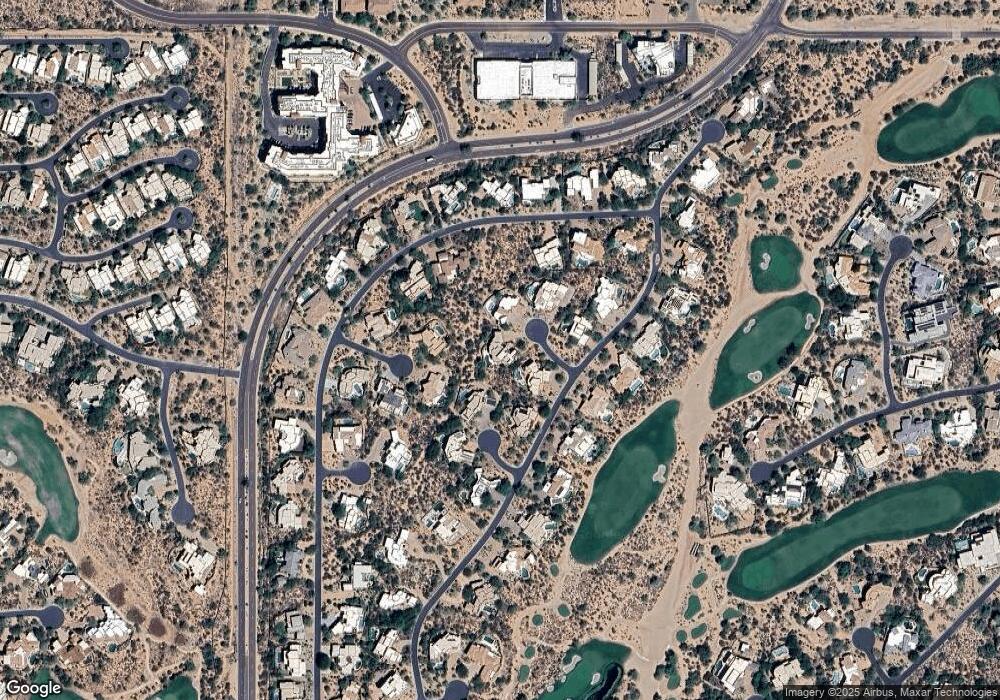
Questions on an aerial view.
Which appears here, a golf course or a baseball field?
golf course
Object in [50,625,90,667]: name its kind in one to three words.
house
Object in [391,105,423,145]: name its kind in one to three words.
building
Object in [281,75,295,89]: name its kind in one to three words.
swimming pool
